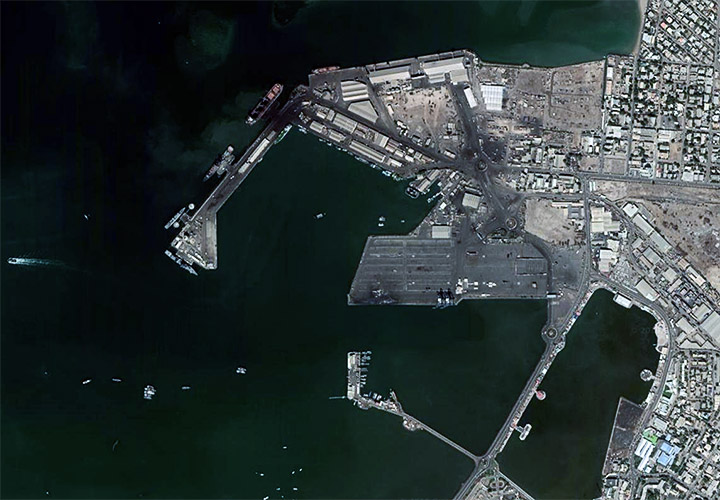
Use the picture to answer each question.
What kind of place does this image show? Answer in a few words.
port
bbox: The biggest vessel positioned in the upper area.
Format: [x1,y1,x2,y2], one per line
[245,84,281,125]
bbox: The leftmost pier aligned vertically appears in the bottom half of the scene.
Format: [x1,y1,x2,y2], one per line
[347,352,361,400]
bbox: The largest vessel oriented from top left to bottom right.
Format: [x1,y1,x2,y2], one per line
[165,250,198,275]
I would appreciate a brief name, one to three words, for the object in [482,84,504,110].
building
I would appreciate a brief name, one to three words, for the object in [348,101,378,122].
building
